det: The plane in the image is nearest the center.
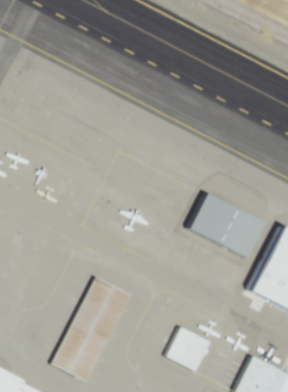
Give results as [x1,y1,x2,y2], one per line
[121,209,149,231]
